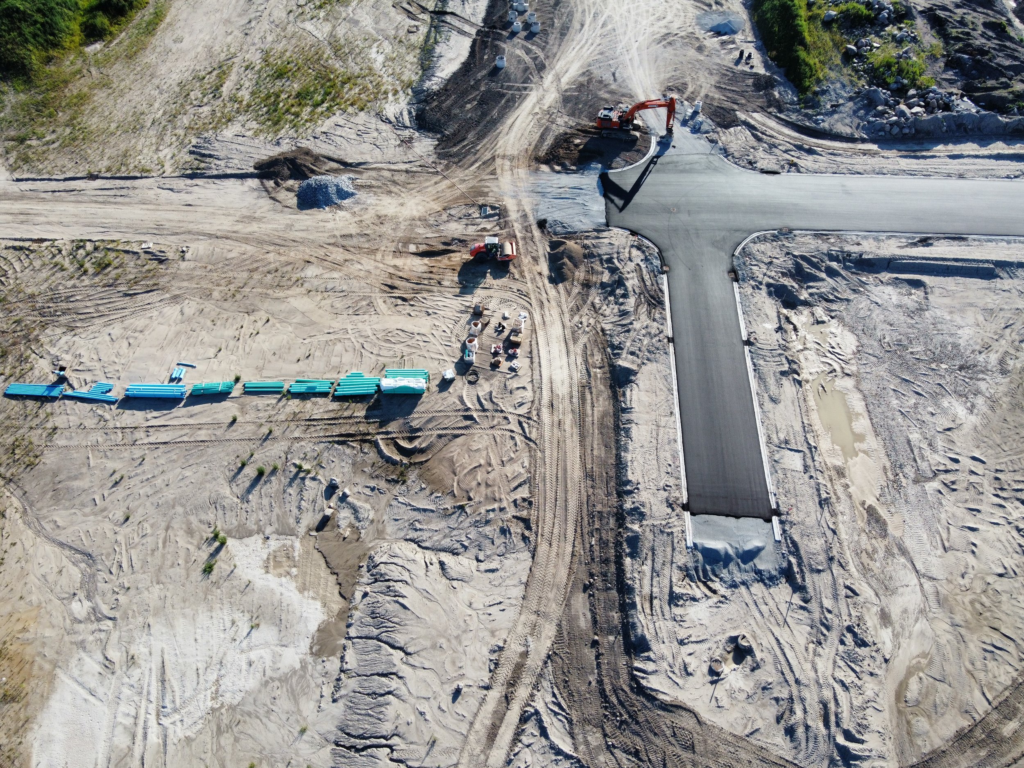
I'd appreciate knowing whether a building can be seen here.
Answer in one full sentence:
No, the scene contains no building.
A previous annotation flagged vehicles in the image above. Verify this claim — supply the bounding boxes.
[469,233,518,264]
[597,95,680,143]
